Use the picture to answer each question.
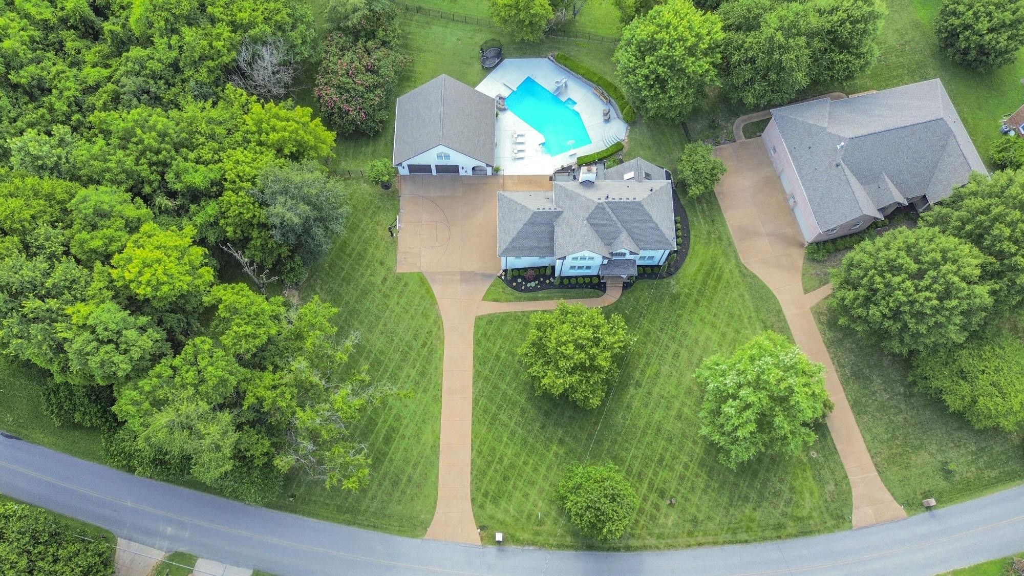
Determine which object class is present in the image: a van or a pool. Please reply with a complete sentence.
Of the two, only a pool appears.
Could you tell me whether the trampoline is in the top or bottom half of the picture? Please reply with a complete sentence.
The trampoline sits in the top half of the picture.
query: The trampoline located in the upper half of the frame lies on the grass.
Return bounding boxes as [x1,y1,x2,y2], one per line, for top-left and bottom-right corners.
[481,40,503,70]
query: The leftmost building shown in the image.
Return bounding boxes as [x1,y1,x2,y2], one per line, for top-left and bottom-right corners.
[391,75,495,177]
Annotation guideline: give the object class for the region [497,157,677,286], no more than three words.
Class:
house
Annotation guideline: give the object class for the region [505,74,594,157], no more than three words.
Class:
swimming pool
